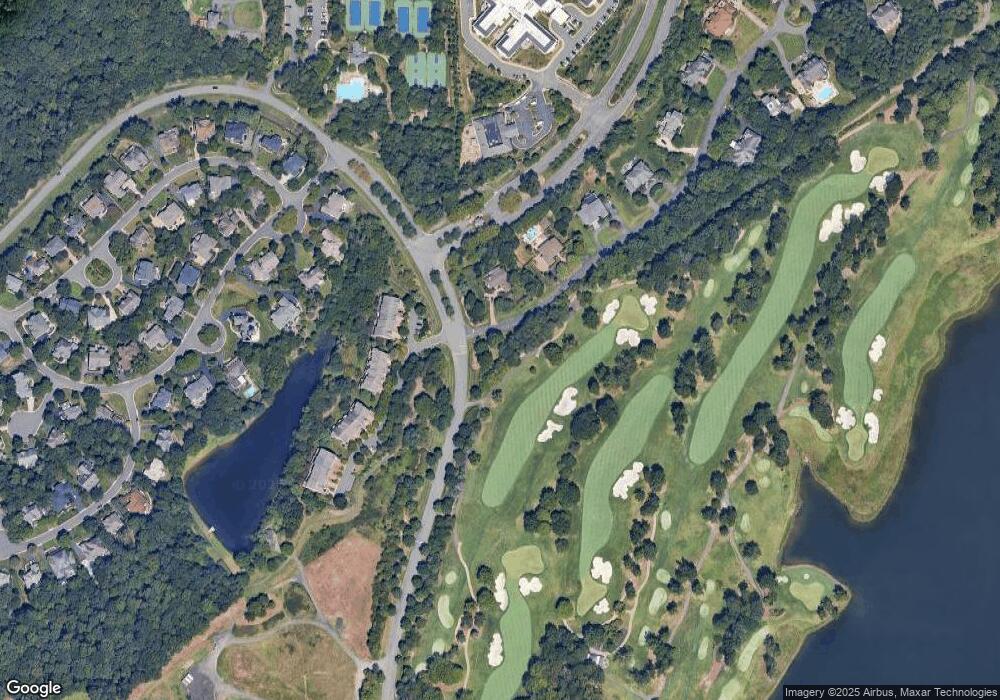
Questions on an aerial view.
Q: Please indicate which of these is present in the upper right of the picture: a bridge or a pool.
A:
pool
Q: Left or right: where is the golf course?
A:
right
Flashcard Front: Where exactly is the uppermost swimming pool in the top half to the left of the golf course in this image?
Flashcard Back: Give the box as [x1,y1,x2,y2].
[333,72,383,105]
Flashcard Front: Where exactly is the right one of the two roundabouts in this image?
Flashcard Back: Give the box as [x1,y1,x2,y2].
[189,315,227,352]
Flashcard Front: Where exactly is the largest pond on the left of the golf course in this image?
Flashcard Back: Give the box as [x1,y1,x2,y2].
[187,335,336,553]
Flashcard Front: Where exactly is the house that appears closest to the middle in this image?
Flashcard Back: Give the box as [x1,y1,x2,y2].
[483,268,510,292]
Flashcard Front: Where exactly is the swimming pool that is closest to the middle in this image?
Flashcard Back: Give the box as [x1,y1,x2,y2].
[522,226,548,250]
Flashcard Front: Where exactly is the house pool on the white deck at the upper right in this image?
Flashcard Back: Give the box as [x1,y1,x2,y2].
[807,79,839,107]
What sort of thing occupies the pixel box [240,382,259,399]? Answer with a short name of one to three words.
swimming pool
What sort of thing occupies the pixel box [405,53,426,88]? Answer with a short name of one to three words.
tennis court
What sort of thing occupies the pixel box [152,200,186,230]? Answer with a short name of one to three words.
house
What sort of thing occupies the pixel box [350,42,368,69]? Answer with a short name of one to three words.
building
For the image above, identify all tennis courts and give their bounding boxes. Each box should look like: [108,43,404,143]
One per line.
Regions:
[405,53,426,88]
[365,0,385,30]
[414,0,433,38]
[346,0,365,30]
[395,0,413,38]
[427,53,446,88]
